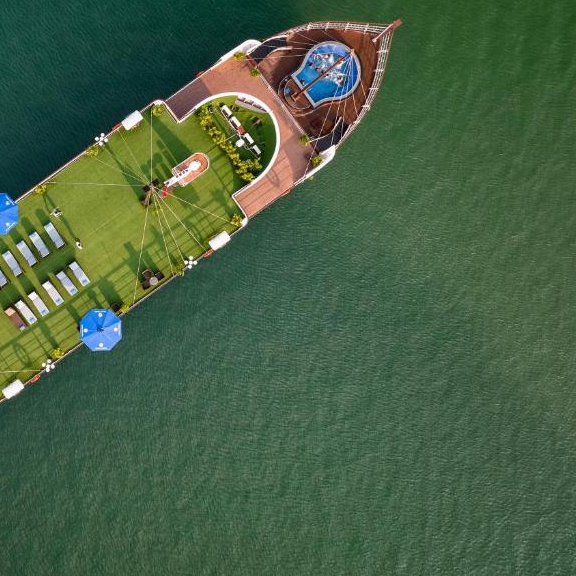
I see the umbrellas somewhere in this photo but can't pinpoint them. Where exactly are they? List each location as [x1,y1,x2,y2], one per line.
[0,192,20,234]
[79,309,121,351]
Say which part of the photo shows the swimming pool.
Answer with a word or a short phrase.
top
